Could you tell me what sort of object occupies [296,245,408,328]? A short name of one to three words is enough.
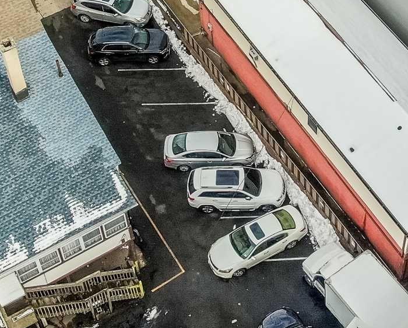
truck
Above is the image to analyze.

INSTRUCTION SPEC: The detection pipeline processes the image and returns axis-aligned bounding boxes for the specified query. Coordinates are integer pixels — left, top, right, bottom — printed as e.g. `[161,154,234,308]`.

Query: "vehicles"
[296,245,408,328]
[206,204,307,280]
[188,163,286,214]
[160,125,255,172]
[262,305,315,328]
[86,23,169,65]
[68,0,150,26]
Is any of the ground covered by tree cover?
No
